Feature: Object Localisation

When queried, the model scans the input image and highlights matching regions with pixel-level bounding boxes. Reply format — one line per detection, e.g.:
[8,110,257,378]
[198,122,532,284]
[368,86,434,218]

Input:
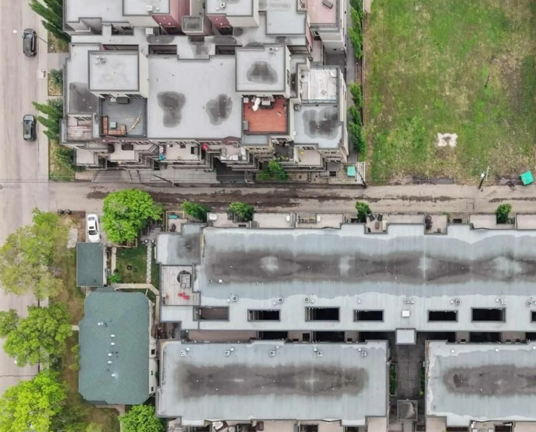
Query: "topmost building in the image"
[64,0,349,173]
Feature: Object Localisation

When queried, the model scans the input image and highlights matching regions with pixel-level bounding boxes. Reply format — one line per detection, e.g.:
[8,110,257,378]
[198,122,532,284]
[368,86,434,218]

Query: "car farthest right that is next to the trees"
[87,215,102,243]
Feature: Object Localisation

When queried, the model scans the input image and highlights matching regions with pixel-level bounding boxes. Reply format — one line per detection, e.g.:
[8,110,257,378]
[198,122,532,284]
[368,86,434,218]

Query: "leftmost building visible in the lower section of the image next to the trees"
[77,243,108,286]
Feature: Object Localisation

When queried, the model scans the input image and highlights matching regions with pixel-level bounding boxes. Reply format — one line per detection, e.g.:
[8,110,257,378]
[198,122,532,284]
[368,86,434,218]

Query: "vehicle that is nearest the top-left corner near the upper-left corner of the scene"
[22,29,38,56]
